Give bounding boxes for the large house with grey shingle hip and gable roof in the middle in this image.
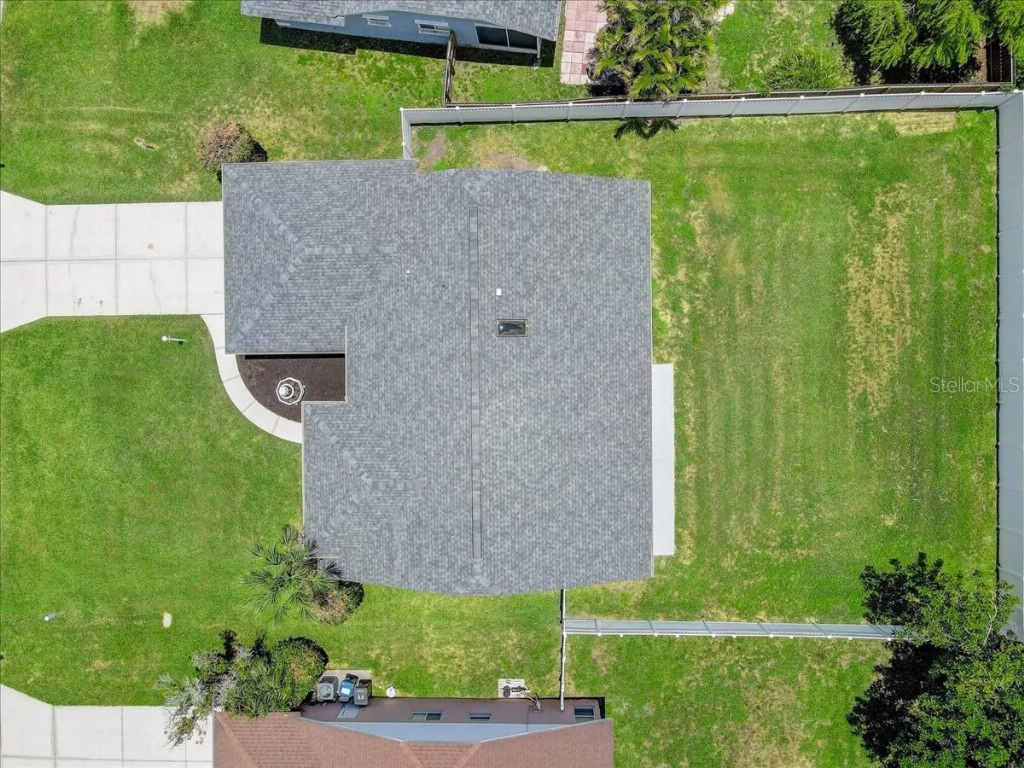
[222,162,653,595]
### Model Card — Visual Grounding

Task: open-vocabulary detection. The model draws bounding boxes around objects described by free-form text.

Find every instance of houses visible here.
[213,693,613,768]
[241,0,562,74]
[222,162,653,595]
